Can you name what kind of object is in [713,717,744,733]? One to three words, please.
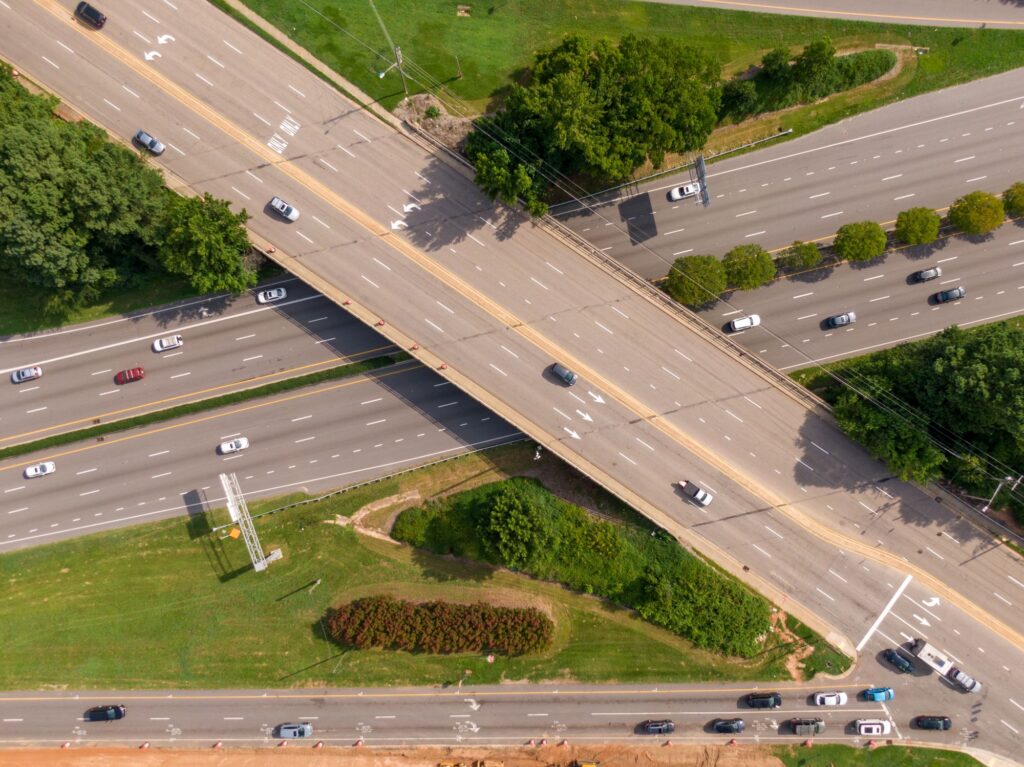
car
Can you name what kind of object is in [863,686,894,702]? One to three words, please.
car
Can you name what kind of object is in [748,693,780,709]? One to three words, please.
vehicle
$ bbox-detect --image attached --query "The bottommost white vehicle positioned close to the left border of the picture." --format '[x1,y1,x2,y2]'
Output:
[25,461,56,478]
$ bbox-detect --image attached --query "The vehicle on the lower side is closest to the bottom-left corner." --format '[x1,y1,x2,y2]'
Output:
[89,705,123,721]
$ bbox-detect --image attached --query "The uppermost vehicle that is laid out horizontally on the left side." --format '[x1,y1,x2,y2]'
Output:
[258,287,287,304]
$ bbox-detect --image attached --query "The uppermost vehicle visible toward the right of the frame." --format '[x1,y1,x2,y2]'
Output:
[669,182,699,200]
